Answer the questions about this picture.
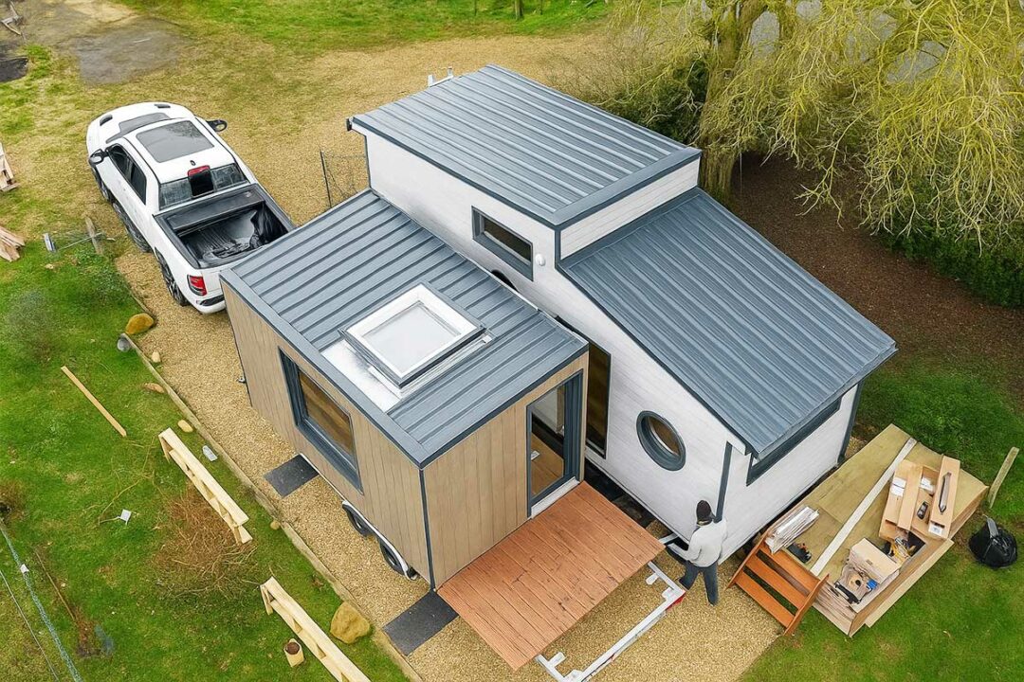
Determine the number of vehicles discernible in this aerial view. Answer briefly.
one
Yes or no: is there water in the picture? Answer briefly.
No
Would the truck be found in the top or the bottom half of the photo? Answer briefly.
top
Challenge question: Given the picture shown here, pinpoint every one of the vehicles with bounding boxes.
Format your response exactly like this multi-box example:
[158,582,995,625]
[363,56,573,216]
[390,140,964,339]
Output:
[83,105,299,323]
